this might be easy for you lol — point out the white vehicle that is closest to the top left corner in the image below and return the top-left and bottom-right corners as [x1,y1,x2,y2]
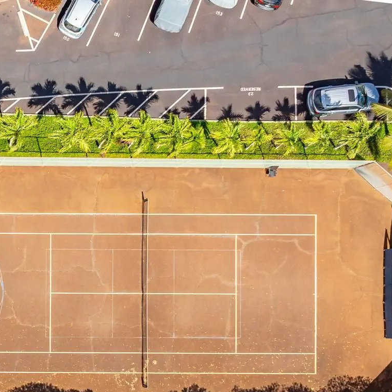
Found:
[59,0,104,41]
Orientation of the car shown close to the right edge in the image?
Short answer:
from left to right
